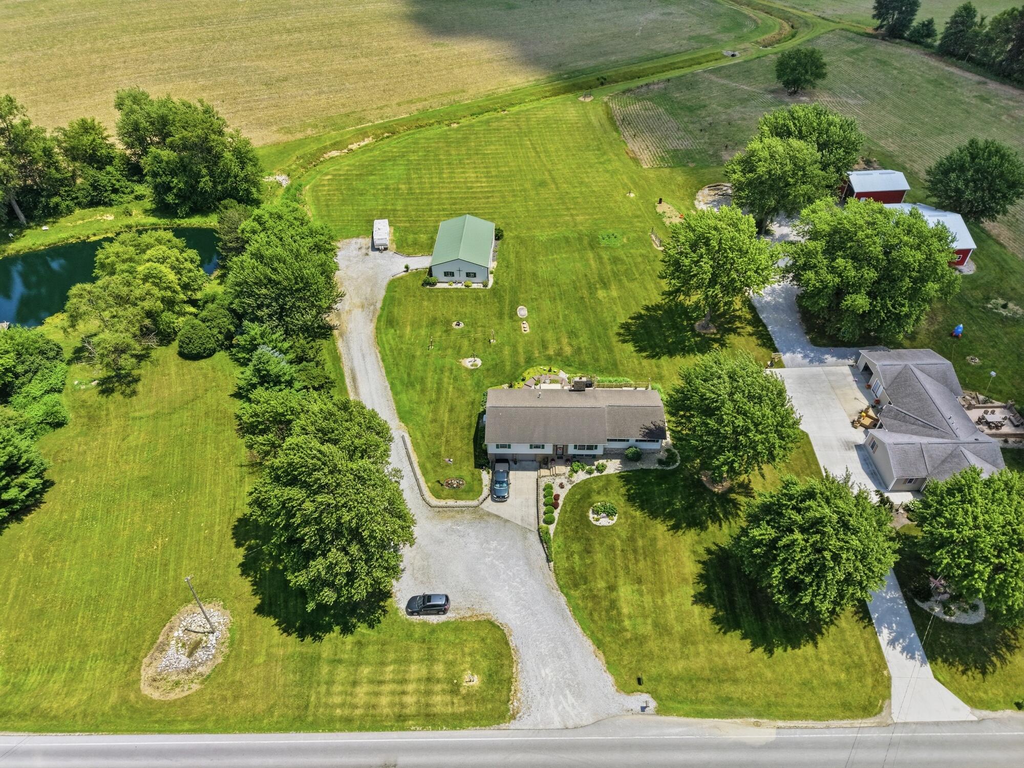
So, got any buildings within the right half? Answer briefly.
Yes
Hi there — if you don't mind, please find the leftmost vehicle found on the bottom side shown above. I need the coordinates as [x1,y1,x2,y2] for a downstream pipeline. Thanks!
[405,597,451,622]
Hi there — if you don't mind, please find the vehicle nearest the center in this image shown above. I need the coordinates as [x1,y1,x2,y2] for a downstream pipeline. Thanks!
[490,458,511,499]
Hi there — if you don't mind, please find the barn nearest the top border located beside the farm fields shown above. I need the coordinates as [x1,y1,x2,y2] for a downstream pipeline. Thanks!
[826,167,909,206]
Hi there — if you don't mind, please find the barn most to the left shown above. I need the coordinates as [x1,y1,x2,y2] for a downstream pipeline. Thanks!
[429,210,497,284]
